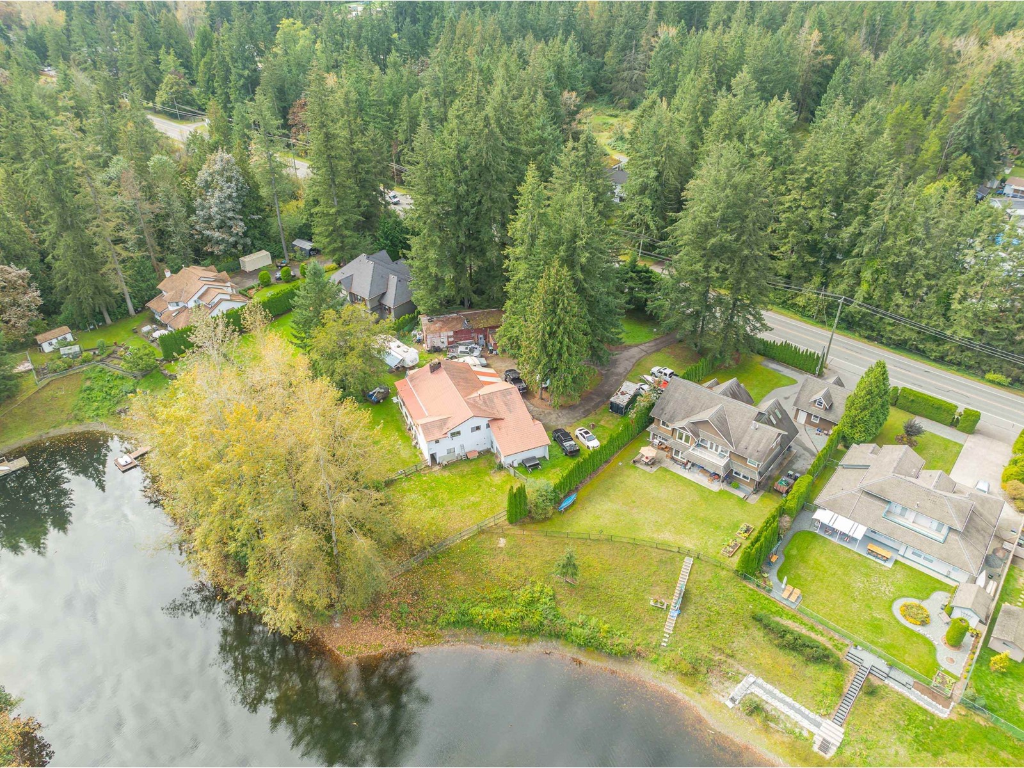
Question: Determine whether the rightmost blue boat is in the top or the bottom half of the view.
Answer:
bottom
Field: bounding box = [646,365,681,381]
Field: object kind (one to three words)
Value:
car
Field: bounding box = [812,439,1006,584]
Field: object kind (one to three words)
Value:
house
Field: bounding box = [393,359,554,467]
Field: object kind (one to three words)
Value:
house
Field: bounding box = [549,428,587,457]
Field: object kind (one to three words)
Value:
truck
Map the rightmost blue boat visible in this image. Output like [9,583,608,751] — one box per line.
[558,494,578,514]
